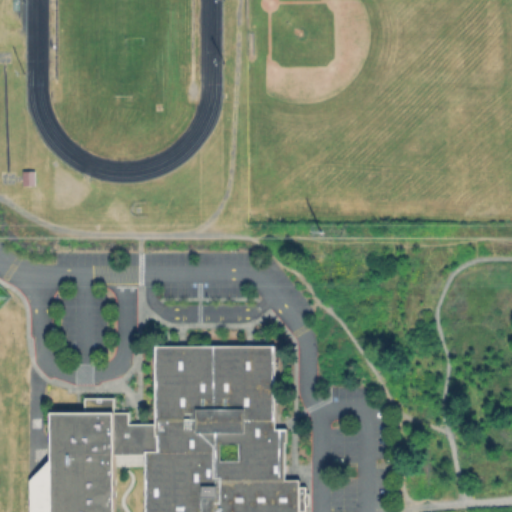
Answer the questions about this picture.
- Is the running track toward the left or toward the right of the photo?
left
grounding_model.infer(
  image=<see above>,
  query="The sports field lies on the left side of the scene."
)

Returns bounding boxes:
[50,0,201,160]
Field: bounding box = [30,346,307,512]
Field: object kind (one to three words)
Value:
building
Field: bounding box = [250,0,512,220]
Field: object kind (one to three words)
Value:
baseball field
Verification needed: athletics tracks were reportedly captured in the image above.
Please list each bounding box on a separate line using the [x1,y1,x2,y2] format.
[27,0,224,182]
